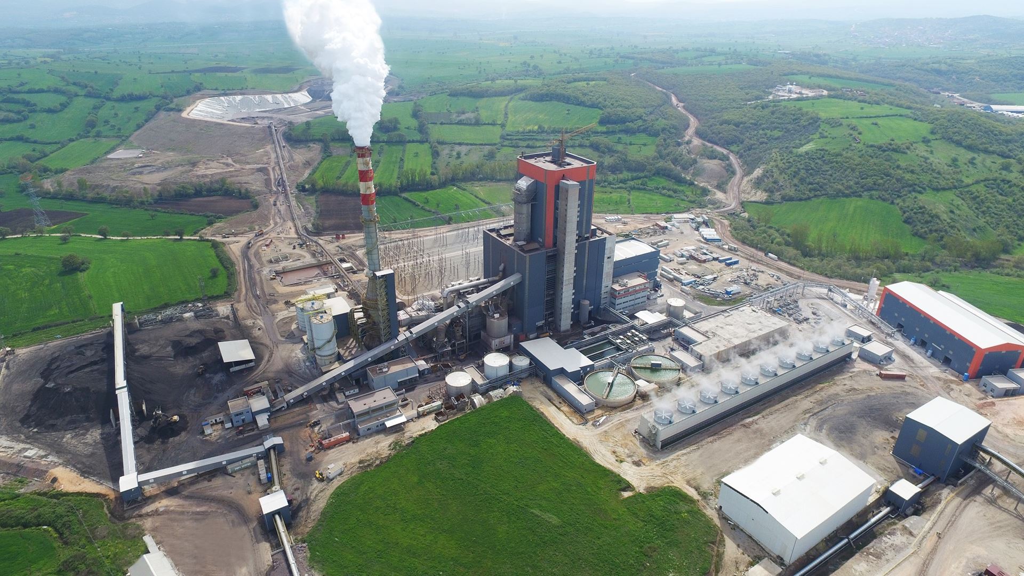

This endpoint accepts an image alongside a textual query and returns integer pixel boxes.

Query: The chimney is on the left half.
[355,146,384,347]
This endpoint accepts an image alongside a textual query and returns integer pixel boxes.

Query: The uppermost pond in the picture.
[190,89,311,118]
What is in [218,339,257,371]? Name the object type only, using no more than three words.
shed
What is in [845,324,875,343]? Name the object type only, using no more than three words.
house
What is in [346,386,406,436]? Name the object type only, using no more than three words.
building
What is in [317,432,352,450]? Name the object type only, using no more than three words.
vehicle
